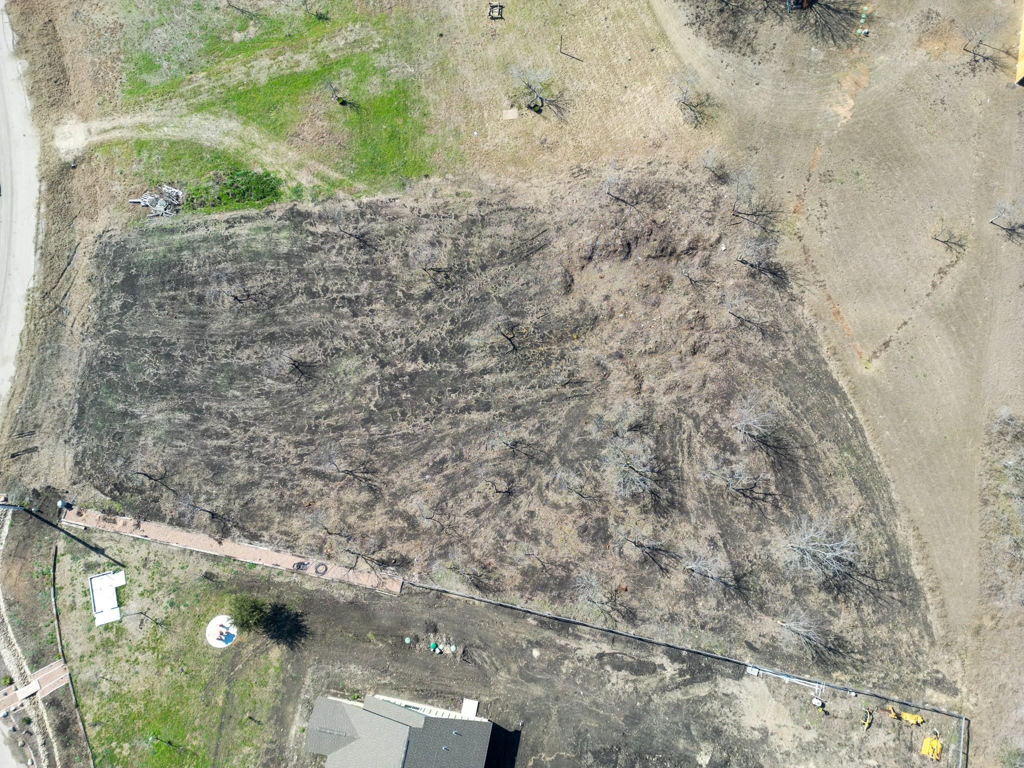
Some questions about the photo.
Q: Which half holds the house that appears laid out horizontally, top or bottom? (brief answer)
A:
bottom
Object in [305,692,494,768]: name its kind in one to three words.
house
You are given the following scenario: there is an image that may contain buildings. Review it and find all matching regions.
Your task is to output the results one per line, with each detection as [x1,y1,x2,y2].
[305,692,494,768]
[1016,0,1024,85]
